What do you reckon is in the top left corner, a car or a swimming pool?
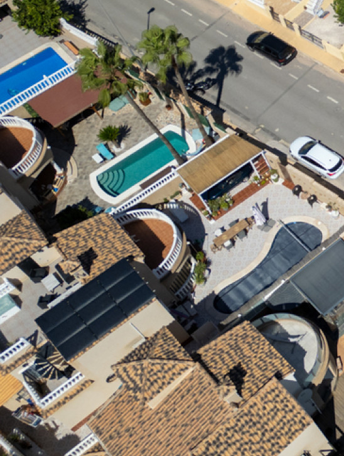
swimming pool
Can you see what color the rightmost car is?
white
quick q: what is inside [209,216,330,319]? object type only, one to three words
swimming pool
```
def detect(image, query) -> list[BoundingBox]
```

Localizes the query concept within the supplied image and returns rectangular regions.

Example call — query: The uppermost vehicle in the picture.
[244,32,302,67]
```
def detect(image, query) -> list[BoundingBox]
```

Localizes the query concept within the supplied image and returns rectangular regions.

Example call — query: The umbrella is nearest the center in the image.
[256,210,272,232]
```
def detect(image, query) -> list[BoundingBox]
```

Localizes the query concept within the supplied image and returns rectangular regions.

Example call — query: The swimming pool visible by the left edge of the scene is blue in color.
[0,40,77,105]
